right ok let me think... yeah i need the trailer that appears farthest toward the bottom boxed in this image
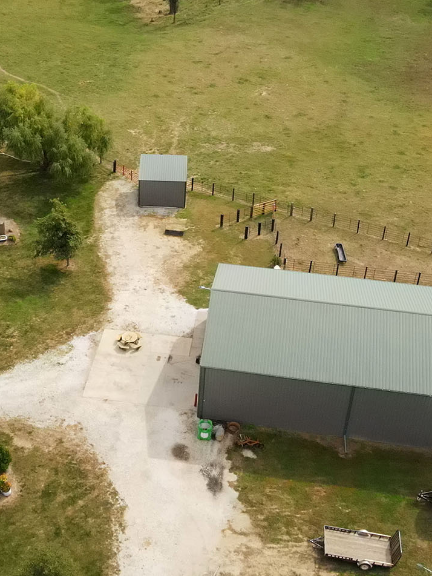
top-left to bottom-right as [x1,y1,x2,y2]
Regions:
[307,526,402,570]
